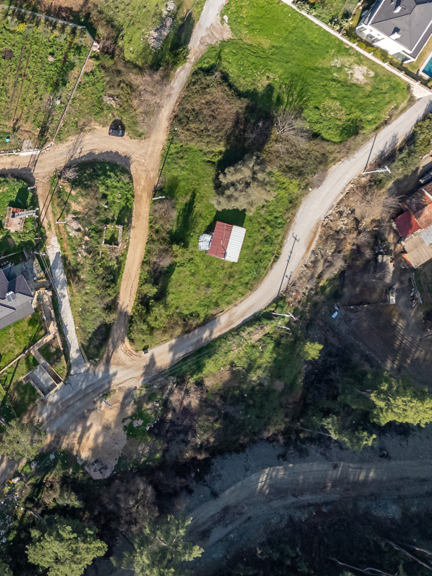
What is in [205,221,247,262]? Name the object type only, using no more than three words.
shed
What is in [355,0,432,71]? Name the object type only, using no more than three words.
house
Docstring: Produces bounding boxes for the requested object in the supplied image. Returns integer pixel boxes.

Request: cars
[418,172,432,186]
[109,128,125,137]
